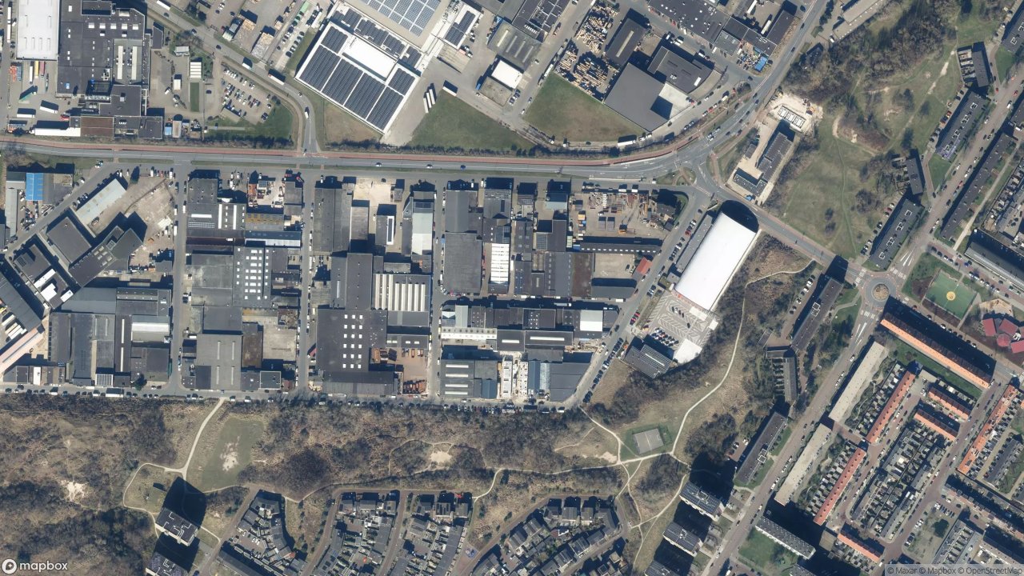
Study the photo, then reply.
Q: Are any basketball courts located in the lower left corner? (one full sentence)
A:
No, there is no basketball court in the lower left corner.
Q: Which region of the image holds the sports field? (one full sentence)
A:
Look in the bottom left portion of the view to spot the sports field.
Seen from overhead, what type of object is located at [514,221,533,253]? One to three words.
building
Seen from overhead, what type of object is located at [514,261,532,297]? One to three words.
building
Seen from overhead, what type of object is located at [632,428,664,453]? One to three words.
basketball court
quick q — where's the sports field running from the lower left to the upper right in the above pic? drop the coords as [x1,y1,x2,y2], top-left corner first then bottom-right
[201,418,263,489]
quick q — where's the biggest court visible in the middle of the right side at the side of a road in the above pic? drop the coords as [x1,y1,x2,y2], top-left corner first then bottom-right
[925,269,976,319]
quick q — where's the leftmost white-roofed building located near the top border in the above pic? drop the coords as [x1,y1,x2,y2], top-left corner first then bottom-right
[16,0,61,61]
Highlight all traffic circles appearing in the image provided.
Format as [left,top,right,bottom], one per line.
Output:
[860,272,898,310]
